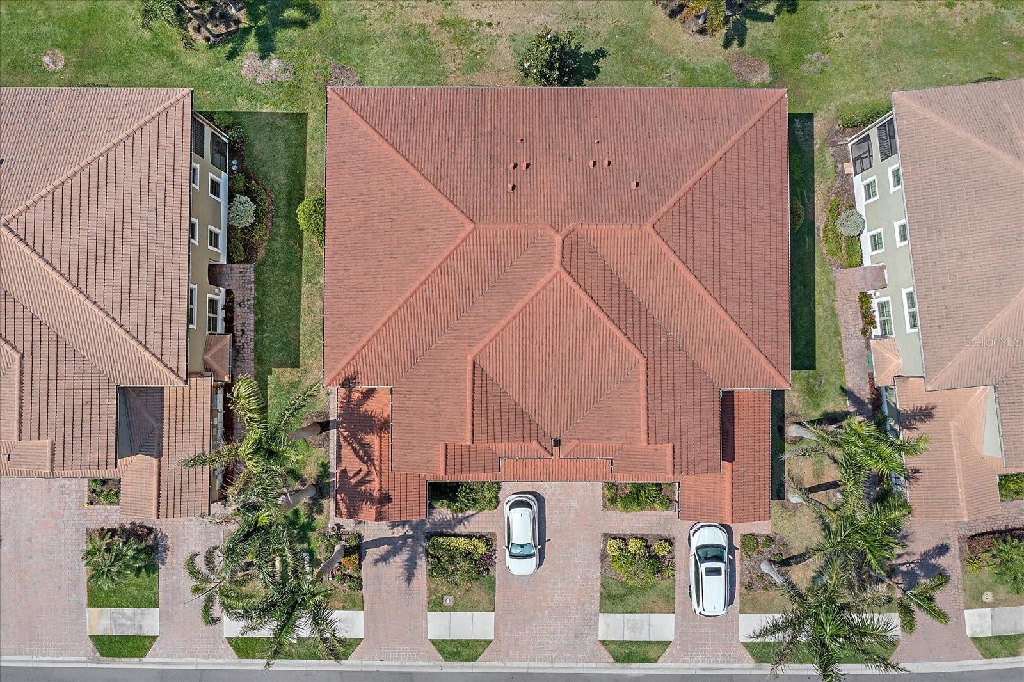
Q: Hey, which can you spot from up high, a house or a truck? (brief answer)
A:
house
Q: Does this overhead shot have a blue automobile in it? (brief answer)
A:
No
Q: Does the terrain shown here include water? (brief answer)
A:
No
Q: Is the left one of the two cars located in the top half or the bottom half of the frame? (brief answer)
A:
bottom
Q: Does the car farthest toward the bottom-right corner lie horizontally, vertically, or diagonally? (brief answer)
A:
vertically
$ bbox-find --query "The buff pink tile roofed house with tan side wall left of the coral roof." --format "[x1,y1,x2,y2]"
[0,84,233,523]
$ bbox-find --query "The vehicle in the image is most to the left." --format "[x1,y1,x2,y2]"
[501,491,544,574]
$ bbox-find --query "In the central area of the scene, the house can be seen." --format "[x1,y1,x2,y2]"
[324,87,790,525]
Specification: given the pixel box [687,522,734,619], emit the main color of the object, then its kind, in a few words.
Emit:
white car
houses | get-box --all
[849,76,1024,521]
[0,84,233,523]
[324,87,790,525]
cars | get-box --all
[687,522,734,619]
[501,491,544,574]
